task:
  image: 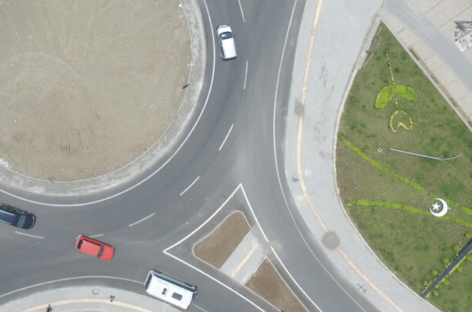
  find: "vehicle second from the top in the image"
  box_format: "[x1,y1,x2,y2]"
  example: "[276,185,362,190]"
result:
[0,205,37,230]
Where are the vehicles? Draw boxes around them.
[145,270,197,310]
[73,234,116,261]
[0,205,37,230]
[216,24,237,61]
